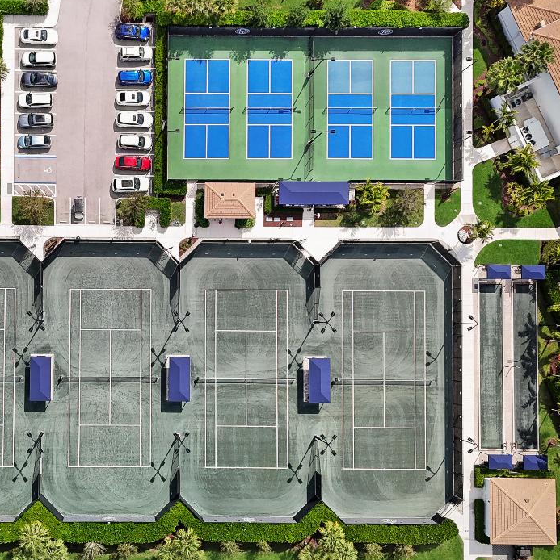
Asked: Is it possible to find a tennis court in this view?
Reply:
Yes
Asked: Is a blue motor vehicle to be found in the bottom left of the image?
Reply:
No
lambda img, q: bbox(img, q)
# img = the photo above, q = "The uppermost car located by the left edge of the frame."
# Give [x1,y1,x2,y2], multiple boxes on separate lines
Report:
[20,25,57,43]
